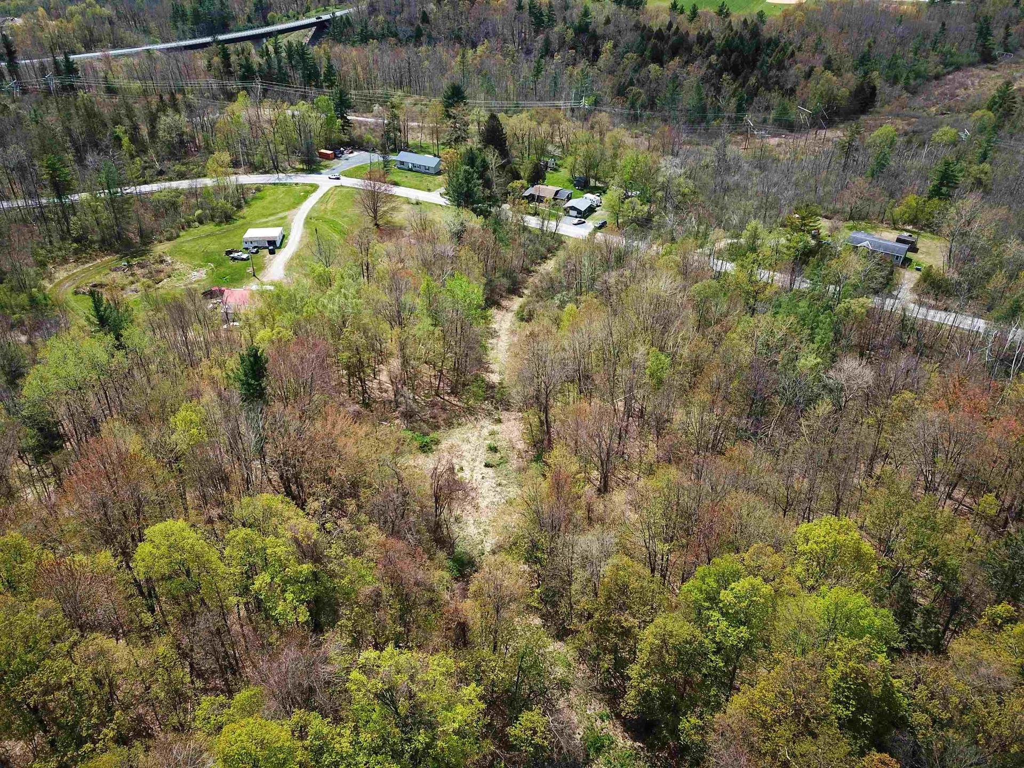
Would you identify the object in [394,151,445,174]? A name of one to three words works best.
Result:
house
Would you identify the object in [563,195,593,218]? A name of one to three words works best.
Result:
building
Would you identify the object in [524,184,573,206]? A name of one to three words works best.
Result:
house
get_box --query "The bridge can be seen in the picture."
[214,17,324,48]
